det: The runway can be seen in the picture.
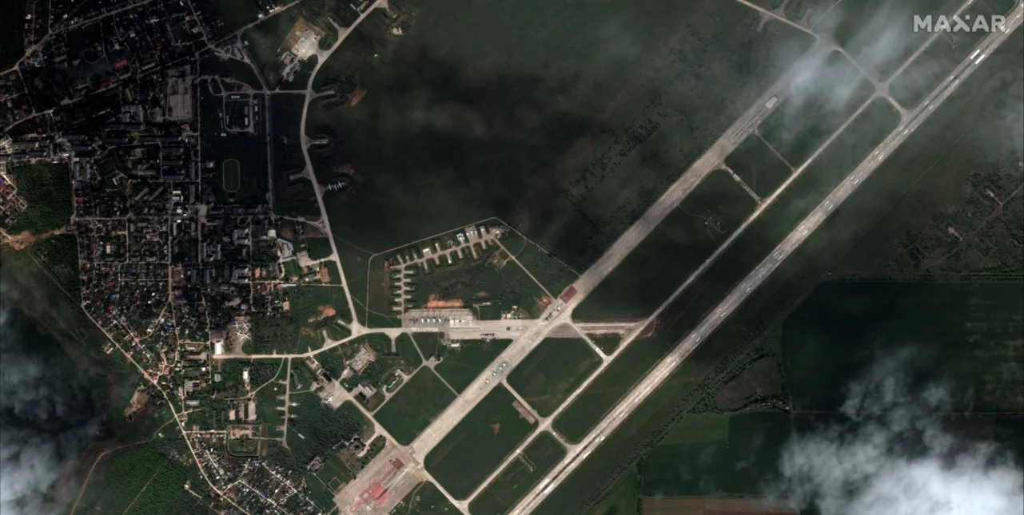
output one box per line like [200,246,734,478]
[508,9,1024,515]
